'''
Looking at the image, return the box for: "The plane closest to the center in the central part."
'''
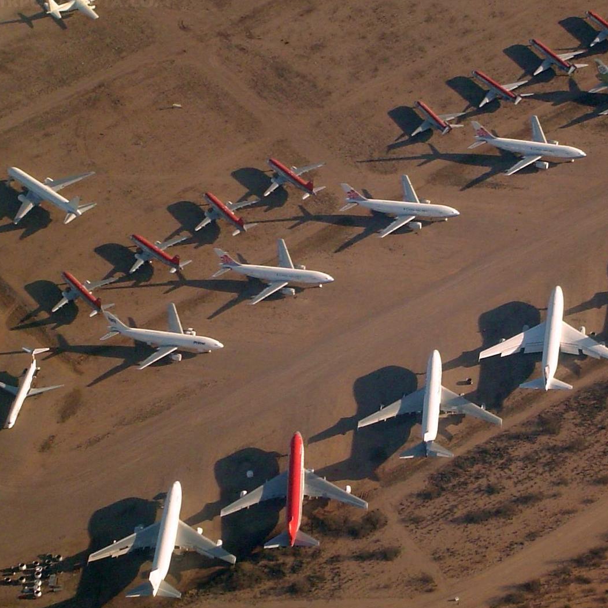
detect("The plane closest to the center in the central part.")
[212,238,335,306]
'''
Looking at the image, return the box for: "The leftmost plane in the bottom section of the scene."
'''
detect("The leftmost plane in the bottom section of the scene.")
[0,349,64,430]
